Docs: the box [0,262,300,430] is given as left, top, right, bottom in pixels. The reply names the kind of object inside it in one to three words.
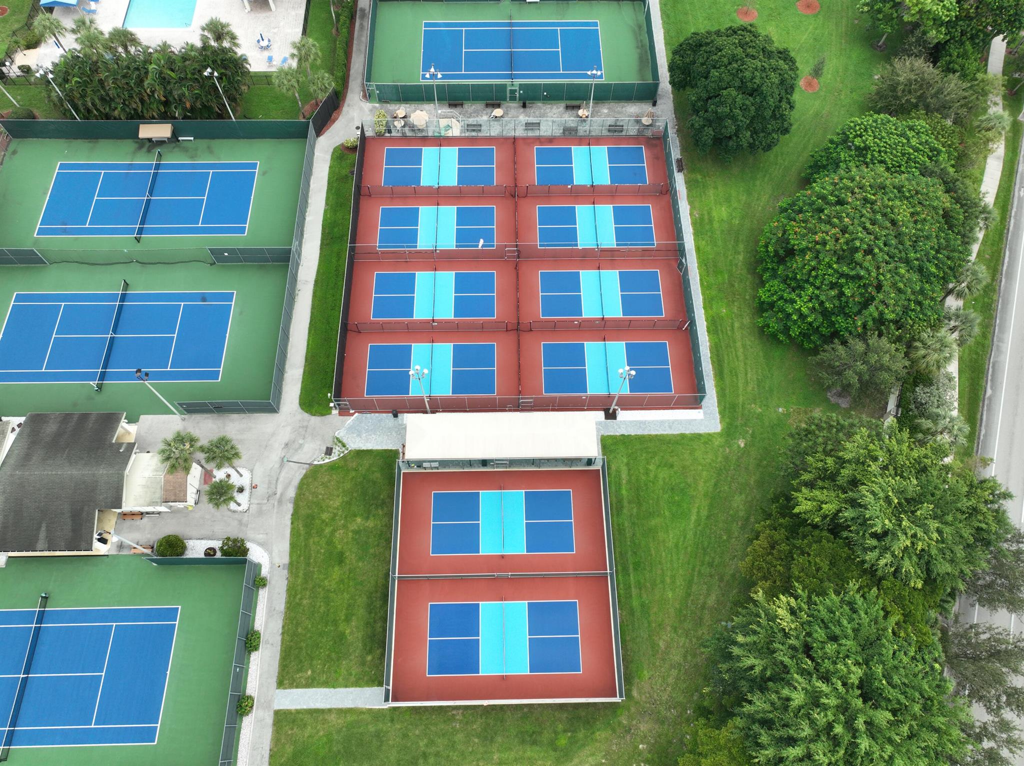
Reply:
tennis court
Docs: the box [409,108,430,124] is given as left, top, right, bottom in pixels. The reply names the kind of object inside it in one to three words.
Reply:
umbrella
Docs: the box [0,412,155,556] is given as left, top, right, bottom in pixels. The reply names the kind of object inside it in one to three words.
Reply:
building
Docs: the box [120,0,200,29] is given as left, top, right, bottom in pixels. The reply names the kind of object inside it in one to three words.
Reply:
swimming pool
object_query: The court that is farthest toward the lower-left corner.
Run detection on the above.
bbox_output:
[0,554,263,766]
